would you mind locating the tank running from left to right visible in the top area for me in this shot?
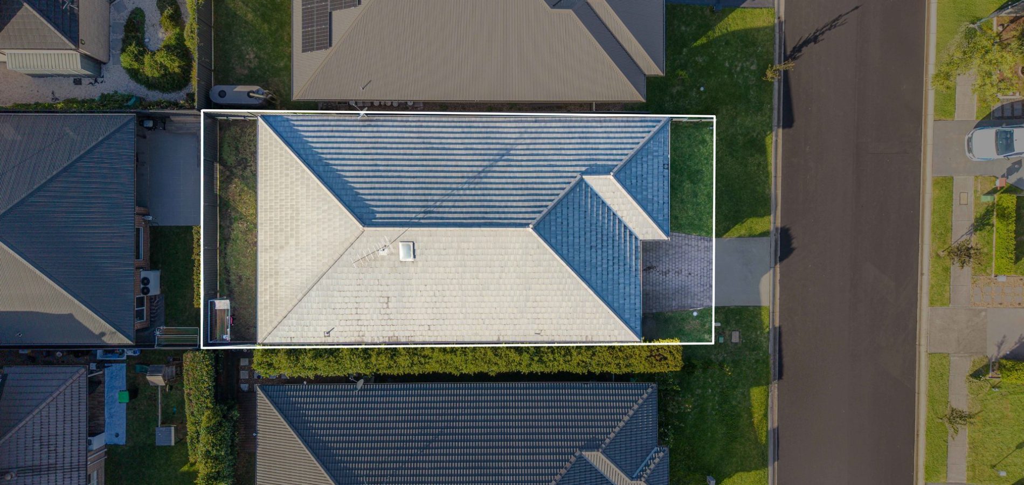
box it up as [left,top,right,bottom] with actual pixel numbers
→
[211,86,284,110]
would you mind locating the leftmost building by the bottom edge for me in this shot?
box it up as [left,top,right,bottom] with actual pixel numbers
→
[0,364,114,485]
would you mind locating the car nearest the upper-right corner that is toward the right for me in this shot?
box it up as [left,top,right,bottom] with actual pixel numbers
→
[964,123,1024,163]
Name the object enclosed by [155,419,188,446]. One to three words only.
house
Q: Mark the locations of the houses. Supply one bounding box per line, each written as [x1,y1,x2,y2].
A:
[0,364,114,485]
[155,419,188,446]
[255,113,672,345]
[254,380,670,485]
[290,0,667,103]
[0,111,150,346]
[0,0,110,62]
